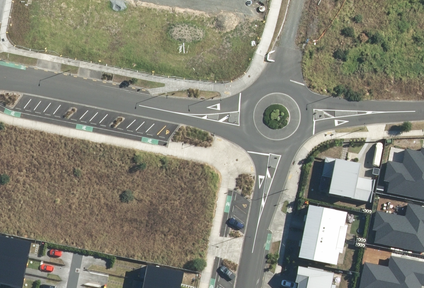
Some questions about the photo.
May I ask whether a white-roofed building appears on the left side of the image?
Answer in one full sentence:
No, no white-roofed building can be made out on the left side of the image.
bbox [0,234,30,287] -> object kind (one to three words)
house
